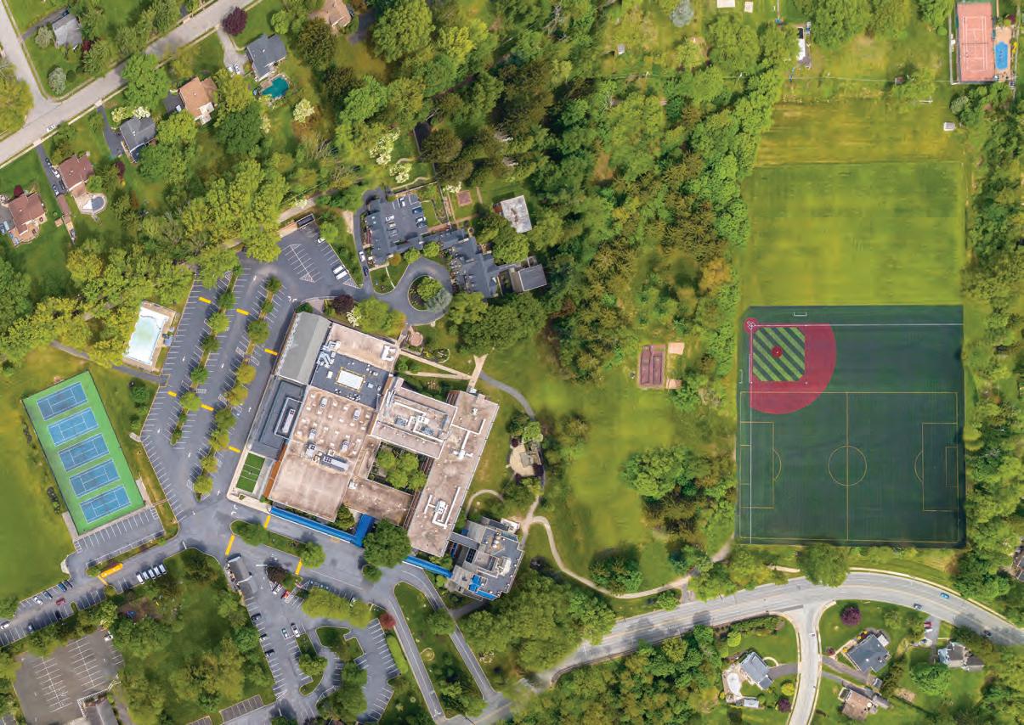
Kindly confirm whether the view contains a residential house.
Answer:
Yes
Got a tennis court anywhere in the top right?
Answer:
Yes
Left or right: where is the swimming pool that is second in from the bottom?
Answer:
left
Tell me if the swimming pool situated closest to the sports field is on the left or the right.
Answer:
right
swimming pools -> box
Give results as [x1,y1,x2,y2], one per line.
[723,664,753,704]
[260,73,292,100]
[995,26,1011,81]
[71,192,107,214]
[125,304,176,373]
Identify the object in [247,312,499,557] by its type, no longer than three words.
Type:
building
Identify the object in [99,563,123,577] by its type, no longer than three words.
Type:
vehicle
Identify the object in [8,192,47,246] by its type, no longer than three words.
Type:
house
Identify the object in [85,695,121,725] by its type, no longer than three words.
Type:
building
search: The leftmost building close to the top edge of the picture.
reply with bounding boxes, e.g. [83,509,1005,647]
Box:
[52,16,83,47]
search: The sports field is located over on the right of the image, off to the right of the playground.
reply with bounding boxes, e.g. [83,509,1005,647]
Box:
[736,305,965,548]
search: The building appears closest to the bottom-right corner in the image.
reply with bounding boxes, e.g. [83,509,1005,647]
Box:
[938,641,984,671]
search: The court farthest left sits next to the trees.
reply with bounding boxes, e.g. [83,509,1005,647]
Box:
[23,372,143,535]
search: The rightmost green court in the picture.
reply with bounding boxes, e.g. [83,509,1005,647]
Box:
[236,451,265,493]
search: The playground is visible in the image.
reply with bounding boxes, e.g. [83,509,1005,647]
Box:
[510,439,543,479]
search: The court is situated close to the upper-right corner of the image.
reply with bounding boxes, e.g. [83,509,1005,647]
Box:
[957,0,996,81]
